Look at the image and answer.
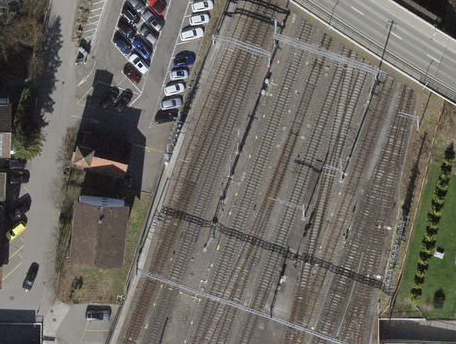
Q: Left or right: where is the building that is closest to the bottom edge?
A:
left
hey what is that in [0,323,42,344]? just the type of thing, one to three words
building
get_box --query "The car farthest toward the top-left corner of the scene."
[76,40,89,62]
